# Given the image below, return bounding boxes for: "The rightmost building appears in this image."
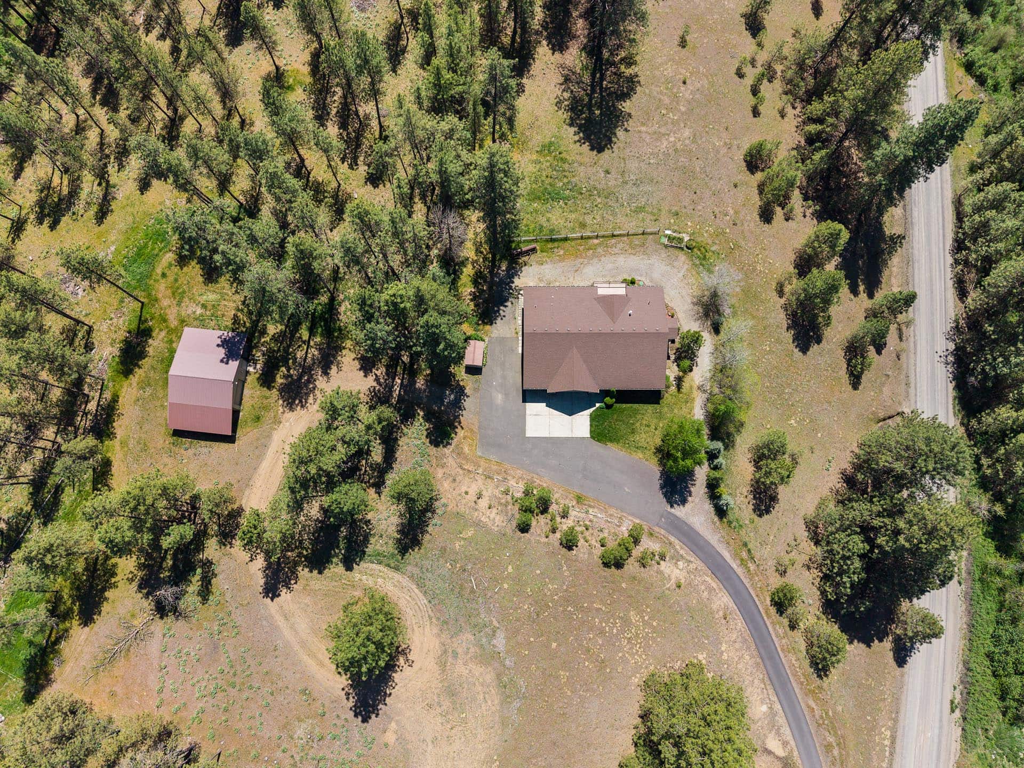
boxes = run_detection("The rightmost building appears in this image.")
[522,275,676,394]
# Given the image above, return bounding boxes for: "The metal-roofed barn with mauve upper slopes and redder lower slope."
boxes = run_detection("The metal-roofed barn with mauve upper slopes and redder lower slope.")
[167,330,252,434]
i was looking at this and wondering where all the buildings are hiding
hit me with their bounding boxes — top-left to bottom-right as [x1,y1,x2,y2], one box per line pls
[522,275,676,394]
[167,330,252,434]
[465,341,485,369]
